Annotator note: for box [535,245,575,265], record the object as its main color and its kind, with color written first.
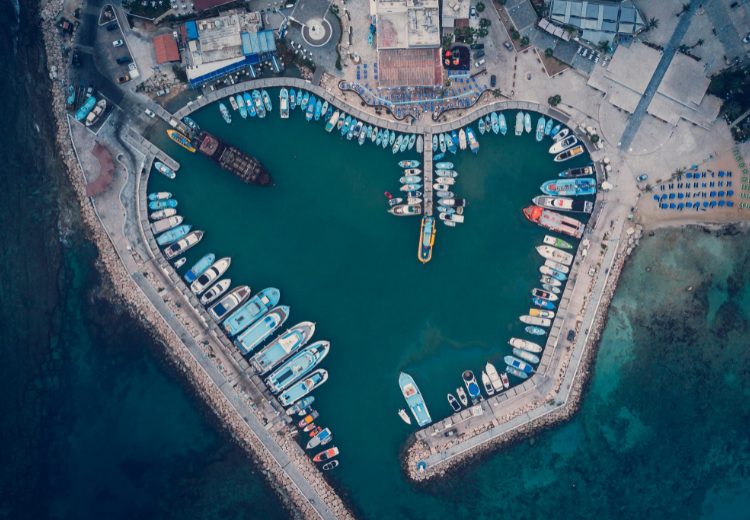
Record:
white boat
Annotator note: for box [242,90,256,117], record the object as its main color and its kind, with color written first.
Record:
blue boat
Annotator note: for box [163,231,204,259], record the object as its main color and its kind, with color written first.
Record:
white boat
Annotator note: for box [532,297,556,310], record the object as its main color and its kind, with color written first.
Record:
blue boat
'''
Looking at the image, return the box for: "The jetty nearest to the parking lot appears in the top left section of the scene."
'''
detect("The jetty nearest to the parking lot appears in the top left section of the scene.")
[130,88,199,143]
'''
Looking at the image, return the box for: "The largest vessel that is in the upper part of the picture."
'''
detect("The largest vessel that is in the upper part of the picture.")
[193,130,272,185]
